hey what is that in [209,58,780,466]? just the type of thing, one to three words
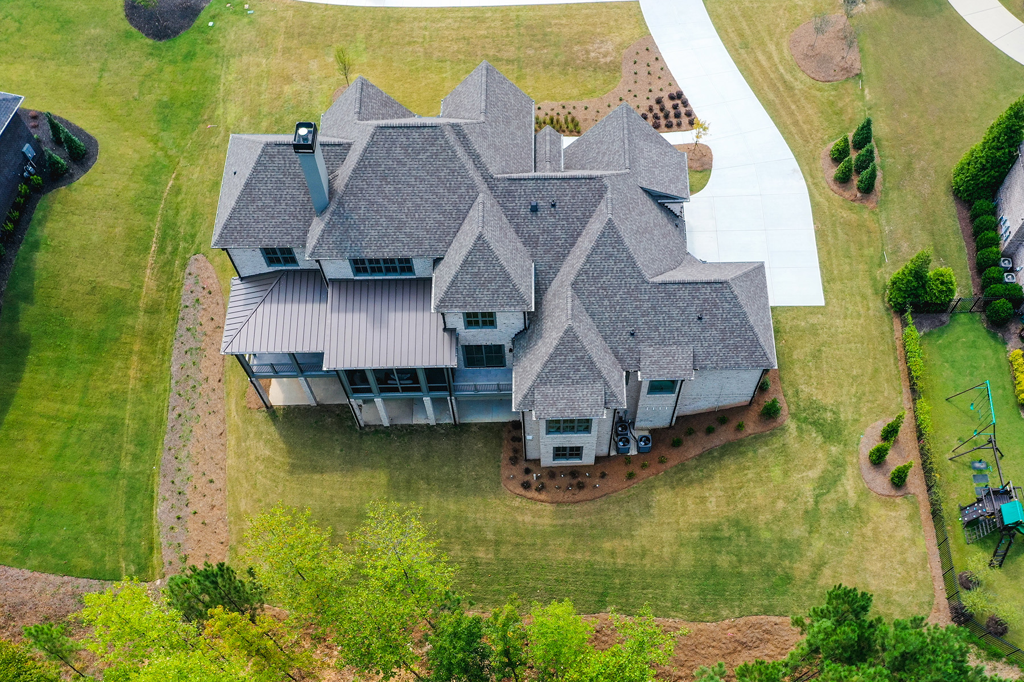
house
